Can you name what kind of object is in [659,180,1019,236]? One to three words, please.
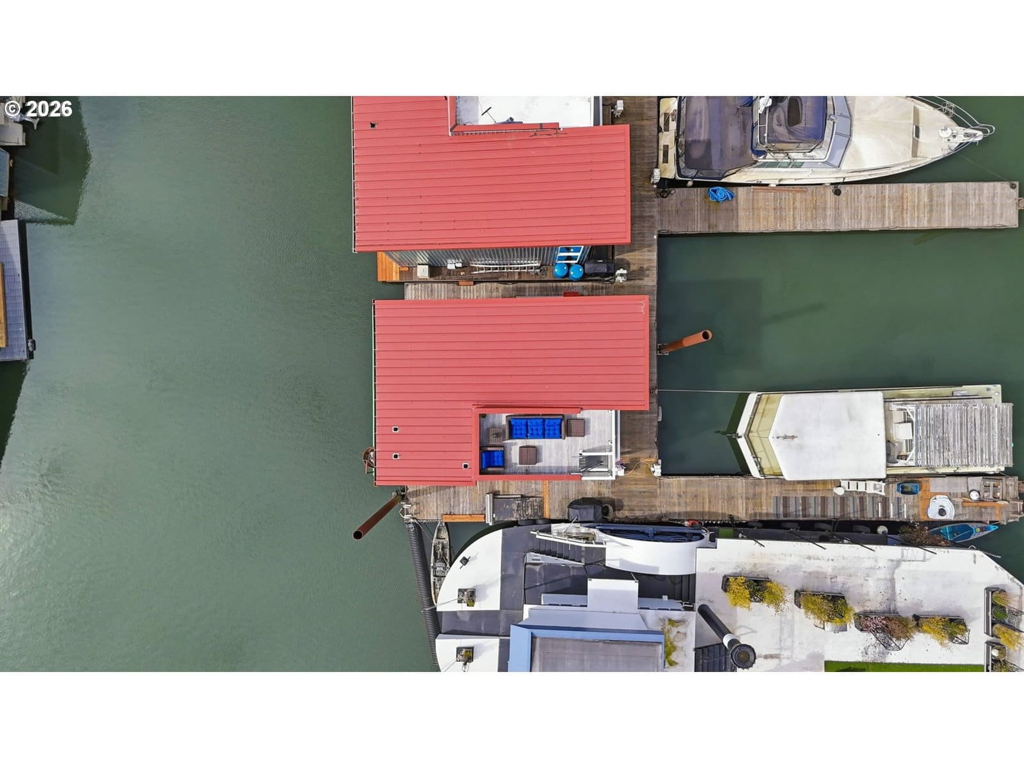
pier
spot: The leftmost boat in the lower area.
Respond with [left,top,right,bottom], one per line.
[429,522,448,599]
